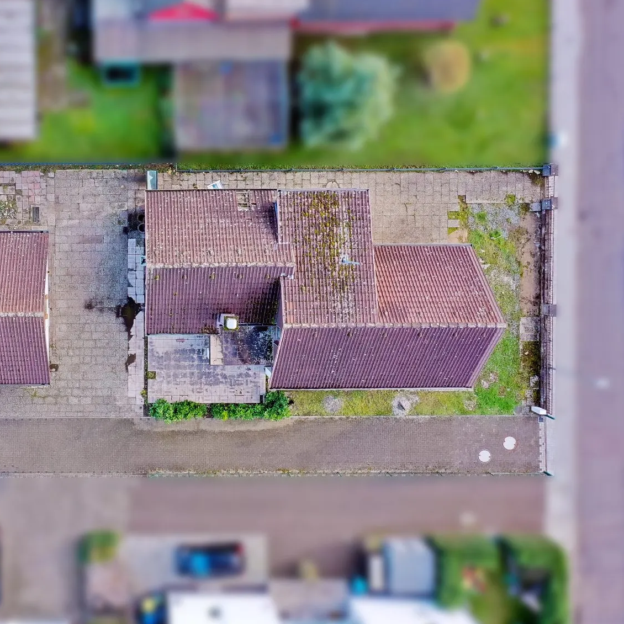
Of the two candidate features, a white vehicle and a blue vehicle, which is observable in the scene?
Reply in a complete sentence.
The one in the frame is a blue vehicle.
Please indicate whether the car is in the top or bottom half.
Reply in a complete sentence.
The car is in the bottom half of the image.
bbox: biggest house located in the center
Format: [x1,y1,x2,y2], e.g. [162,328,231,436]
[145,187,508,393]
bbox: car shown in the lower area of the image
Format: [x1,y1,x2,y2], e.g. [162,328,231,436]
[176,542,245,586]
